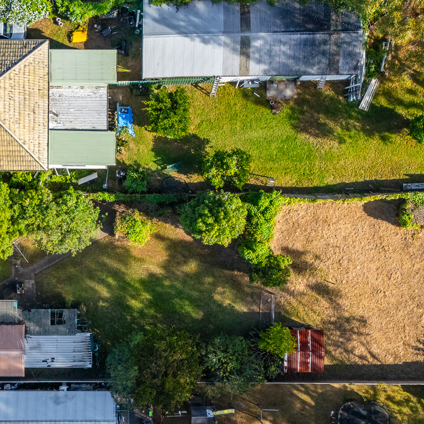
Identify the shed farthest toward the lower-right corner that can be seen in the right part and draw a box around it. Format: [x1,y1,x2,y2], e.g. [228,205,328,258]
[285,330,327,373]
